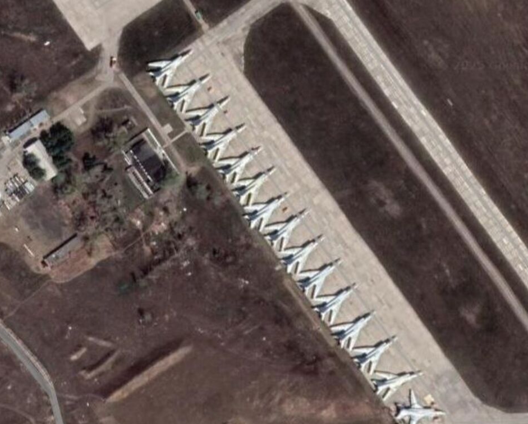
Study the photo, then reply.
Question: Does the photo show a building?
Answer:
Yes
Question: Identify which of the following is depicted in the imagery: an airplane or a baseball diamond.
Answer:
airplane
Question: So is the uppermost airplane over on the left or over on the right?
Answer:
left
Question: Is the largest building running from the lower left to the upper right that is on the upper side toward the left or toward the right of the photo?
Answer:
left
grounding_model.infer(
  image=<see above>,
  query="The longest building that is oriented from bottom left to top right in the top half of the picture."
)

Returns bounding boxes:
[9,110,49,138]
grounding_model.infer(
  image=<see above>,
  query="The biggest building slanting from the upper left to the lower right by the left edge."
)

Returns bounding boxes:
[26,140,59,181]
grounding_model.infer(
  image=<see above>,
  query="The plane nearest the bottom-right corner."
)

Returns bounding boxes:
[396,392,443,424]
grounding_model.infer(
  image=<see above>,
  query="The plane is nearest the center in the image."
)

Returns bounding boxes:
[243,193,287,230]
